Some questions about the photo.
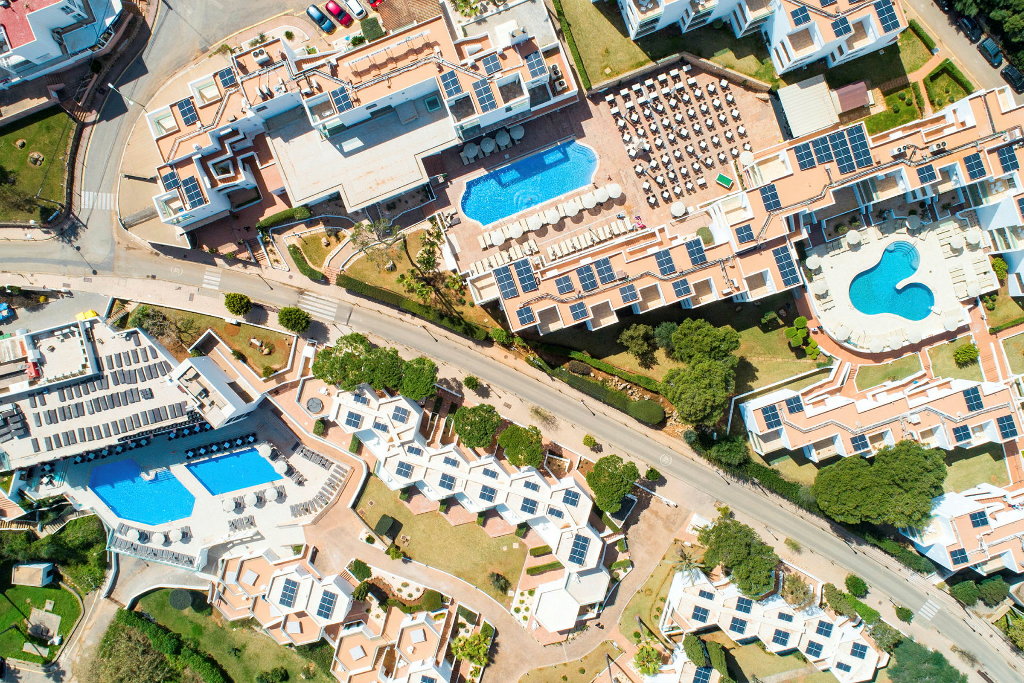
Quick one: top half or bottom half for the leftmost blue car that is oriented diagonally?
top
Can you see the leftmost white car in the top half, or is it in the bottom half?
top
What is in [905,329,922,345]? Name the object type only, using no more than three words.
umbrella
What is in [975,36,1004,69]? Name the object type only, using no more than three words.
car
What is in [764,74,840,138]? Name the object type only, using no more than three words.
building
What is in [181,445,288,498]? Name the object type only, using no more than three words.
swimming pool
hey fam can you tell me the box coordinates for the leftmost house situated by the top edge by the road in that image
[0,0,140,81]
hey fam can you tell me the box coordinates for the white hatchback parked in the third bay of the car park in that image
[342,0,369,23]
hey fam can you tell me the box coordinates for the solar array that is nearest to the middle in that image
[517,307,535,325]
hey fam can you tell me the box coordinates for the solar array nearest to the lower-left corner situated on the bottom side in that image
[278,579,299,608]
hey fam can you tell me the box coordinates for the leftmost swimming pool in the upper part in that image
[456,135,602,230]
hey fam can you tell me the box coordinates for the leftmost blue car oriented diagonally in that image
[306,4,337,35]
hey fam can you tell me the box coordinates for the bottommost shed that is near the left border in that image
[12,561,57,587]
